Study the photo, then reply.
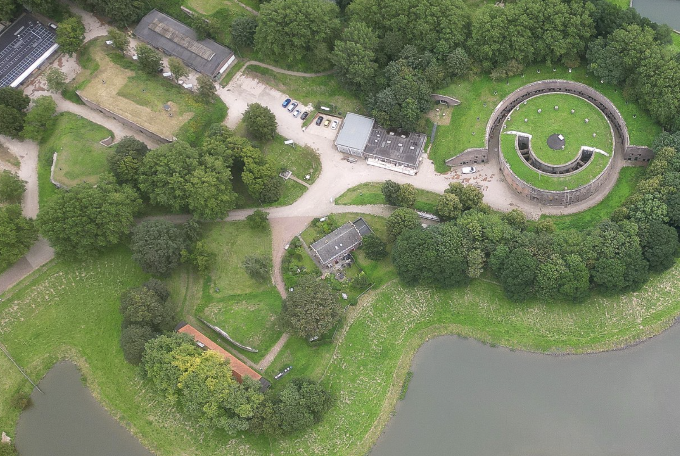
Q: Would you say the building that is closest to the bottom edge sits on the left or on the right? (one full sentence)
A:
You can find the building that is closest to the bottom edge on the left side of the picture.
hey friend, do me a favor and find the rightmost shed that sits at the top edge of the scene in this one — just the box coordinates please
[134,9,237,80]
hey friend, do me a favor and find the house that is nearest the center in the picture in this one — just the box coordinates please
[310,217,375,266]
